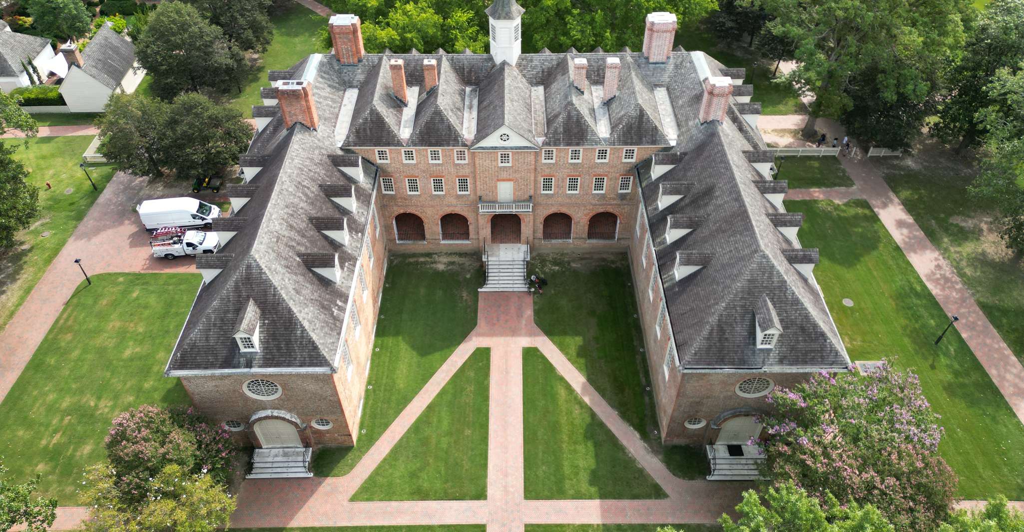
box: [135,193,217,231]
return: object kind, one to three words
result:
van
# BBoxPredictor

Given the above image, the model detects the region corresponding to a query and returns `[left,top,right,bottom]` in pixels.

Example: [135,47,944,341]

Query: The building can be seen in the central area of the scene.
[162,0,853,481]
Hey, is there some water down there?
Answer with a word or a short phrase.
No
